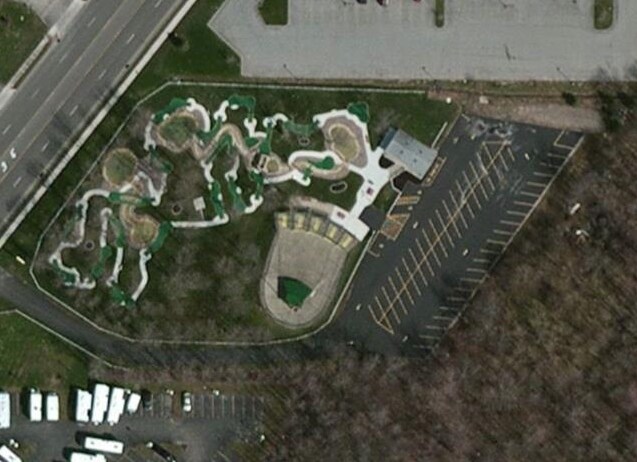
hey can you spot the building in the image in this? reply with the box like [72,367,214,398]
[377,124,438,177]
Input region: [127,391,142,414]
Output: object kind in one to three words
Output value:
vehicle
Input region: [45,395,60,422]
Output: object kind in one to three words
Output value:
camper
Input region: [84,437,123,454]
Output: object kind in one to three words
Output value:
camper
